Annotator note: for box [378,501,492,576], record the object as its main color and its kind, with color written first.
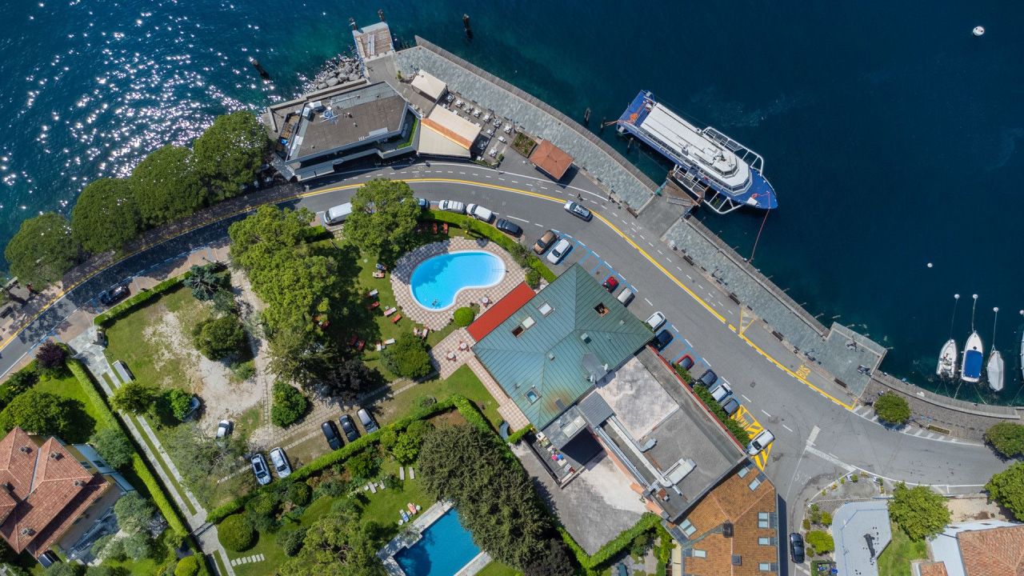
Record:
blue swimming pool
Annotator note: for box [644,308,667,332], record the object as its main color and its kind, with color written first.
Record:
white car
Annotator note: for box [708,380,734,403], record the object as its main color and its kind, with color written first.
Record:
white car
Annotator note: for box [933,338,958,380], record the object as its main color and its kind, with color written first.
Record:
white boat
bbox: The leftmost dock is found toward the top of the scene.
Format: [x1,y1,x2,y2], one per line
[351,22,396,80]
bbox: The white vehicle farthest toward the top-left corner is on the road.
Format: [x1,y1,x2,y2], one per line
[324,202,355,223]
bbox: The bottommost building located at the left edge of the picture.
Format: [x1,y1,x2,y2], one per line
[0,426,141,559]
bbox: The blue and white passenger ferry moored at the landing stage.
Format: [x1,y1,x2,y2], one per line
[617,90,779,214]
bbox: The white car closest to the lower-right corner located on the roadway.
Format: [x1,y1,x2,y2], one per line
[745,429,773,456]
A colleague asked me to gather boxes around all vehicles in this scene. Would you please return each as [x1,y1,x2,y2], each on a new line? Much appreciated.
[547,238,572,264]
[563,200,592,222]
[183,395,203,419]
[438,199,468,213]
[495,218,521,238]
[358,406,378,433]
[745,429,773,456]
[340,413,361,441]
[251,454,272,484]
[708,380,734,403]
[270,446,292,475]
[616,286,635,305]
[650,328,674,352]
[466,203,495,223]
[679,352,696,369]
[217,419,232,444]
[788,532,804,563]
[602,273,621,293]
[692,365,719,388]
[324,202,355,223]
[533,230,558,254]
[721,394,743,416]
[644,308,667,332]
[320,420,344,448]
